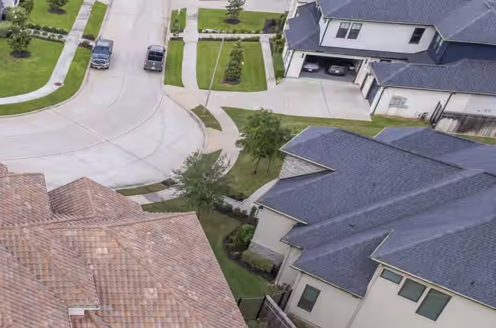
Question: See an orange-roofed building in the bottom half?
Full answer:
No, no orange-roofed building appears in the bottom half.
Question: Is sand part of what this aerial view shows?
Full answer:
No, there's no sand in this view.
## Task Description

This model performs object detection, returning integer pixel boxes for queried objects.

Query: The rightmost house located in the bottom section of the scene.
[249,118,496,328]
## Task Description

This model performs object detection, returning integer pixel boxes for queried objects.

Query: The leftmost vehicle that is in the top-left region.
[93,37,115,68]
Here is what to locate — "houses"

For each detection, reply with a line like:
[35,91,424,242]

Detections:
[268,0,496,123]
[249,118,496,328]
[0,161,247,328]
